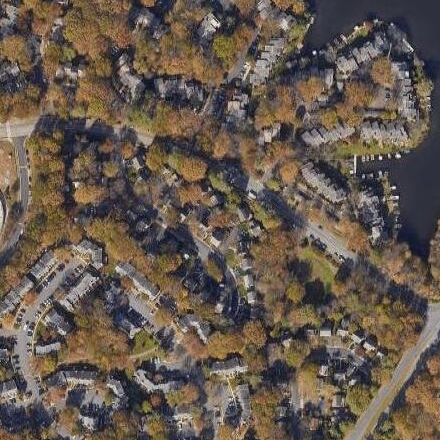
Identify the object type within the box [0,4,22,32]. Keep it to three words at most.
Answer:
house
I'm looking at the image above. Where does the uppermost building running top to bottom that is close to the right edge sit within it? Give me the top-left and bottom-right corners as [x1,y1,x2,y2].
[391,59,422,120]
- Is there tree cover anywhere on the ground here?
Yes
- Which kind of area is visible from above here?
residential area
